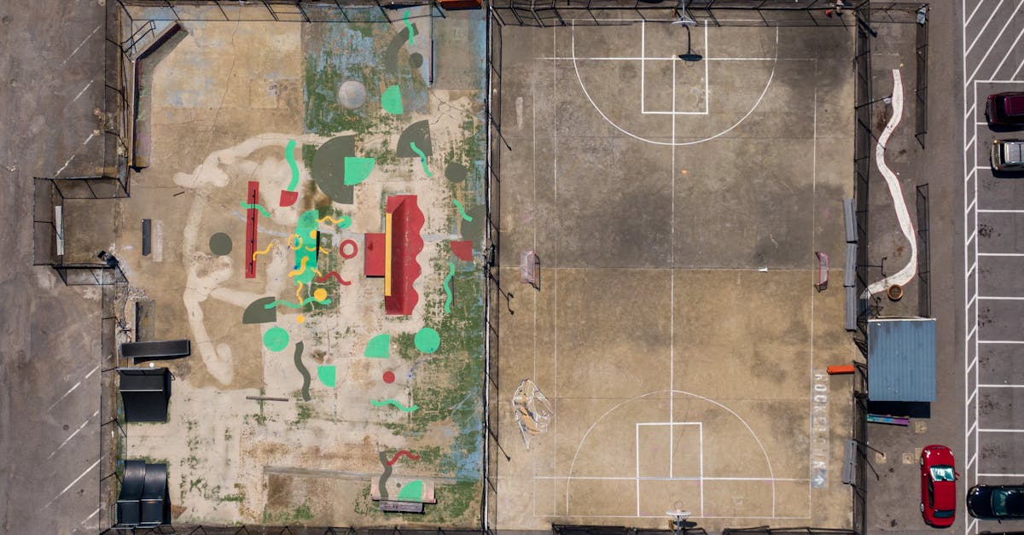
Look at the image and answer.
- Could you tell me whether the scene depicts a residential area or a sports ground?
sports ground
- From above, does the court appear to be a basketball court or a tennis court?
basketball court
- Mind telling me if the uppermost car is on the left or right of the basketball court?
to the right of it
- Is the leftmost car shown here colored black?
No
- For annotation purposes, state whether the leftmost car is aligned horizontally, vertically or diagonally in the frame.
vertically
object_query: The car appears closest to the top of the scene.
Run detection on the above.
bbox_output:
[984,92,1024,128]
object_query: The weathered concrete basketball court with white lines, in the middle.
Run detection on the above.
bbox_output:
[488,9,855,529]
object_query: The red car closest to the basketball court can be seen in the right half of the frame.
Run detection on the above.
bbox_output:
[920,443,963,528]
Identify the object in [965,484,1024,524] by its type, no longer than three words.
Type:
car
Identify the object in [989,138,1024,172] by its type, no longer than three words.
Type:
car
